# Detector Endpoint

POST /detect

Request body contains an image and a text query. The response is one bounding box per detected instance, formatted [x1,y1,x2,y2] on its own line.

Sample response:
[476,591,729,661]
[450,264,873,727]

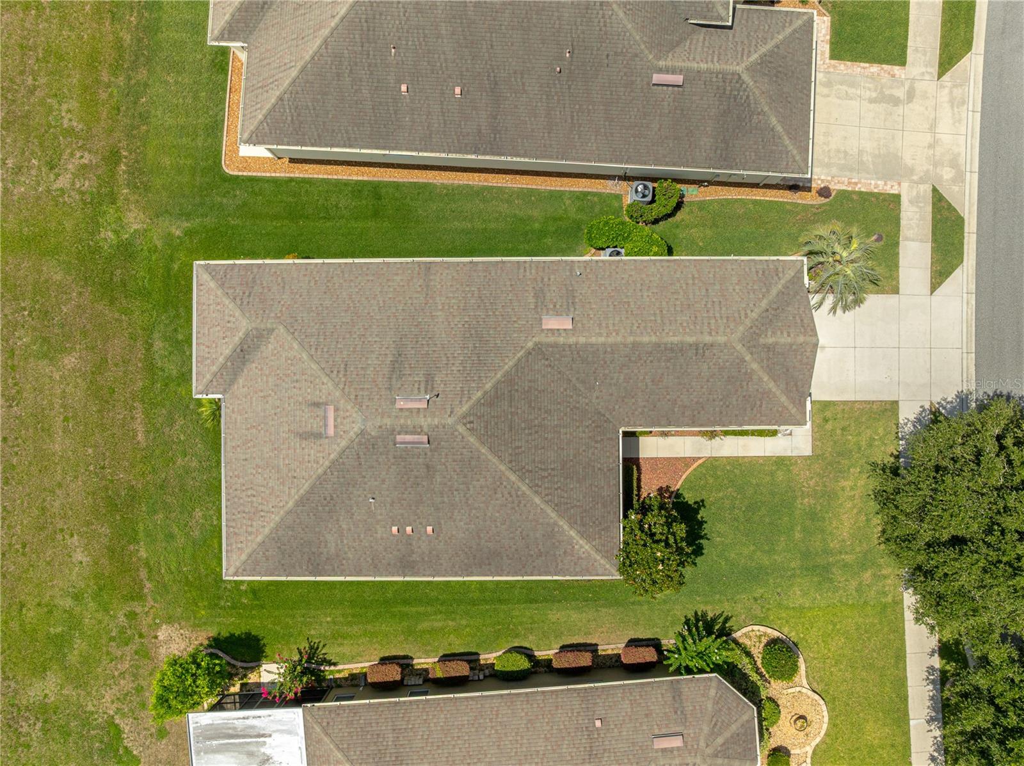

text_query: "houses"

[193,256,820,581]
[185,666,761,766]
[207,0,817,190]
